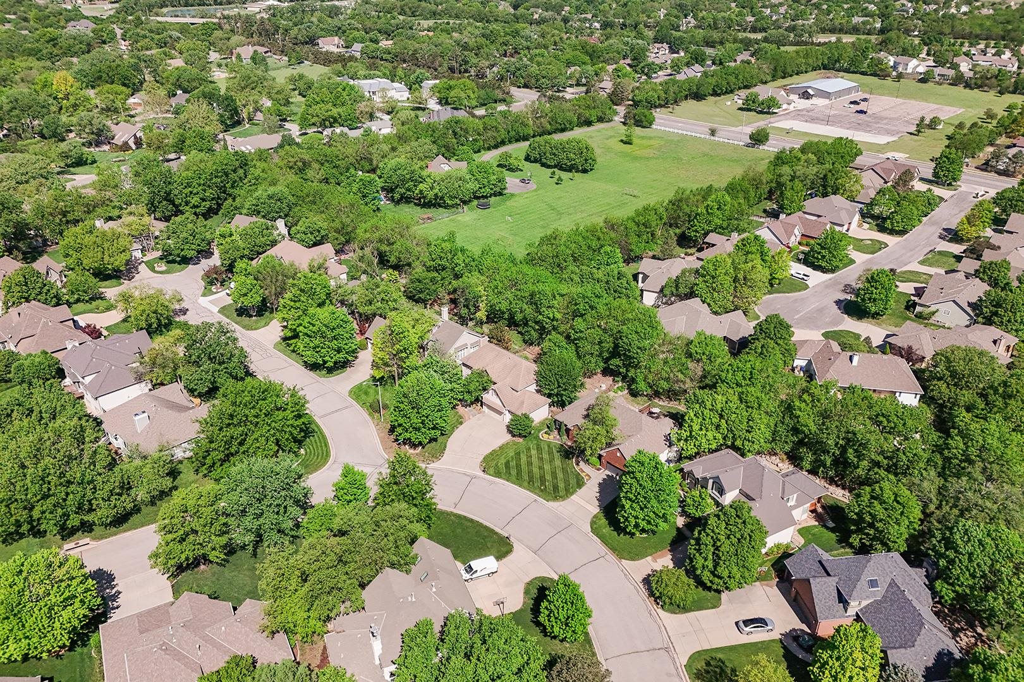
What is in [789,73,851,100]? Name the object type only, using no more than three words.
building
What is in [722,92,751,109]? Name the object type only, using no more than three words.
house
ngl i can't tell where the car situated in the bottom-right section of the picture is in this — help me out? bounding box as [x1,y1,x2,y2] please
[738,614,779,634]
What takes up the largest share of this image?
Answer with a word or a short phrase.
trees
